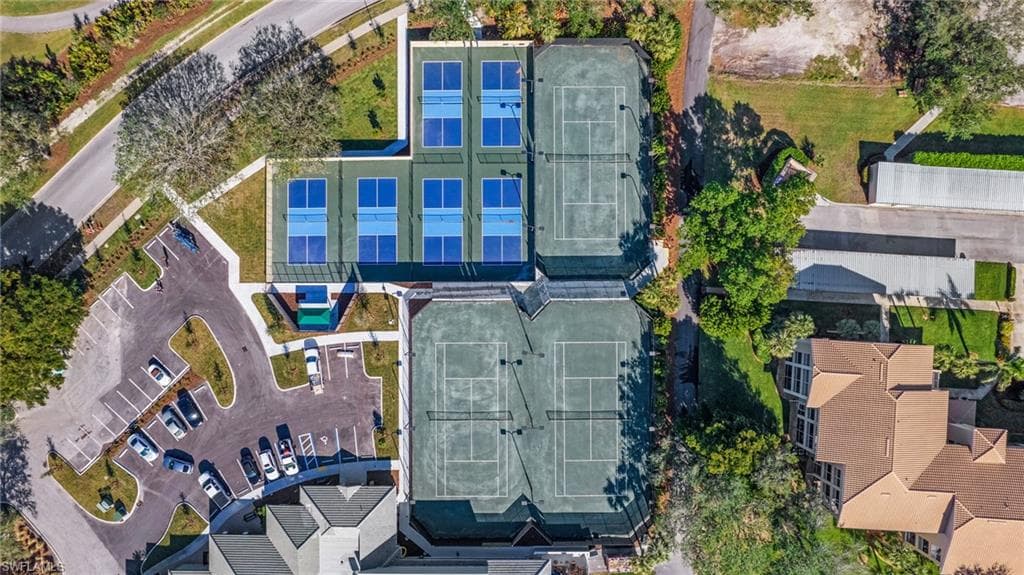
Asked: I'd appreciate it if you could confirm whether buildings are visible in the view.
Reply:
Yes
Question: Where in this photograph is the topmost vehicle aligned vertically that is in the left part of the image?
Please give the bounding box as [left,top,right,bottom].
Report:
[305,348,323,392]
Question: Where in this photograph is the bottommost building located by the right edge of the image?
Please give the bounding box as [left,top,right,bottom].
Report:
[786,337,1024,575]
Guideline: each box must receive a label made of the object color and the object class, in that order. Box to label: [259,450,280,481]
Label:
white car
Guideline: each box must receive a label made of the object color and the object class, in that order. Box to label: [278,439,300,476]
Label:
white truck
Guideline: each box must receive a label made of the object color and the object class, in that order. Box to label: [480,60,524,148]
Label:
blue sports court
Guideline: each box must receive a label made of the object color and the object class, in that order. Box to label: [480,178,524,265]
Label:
blue sports court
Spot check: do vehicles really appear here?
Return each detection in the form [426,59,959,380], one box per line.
[147,362,173,388]
[278,439,300,476]
[200,471,233,509]
[128,432,159,460]
[305,348,323,392]
[259,450,280,481]
[159,409,187,439]
[240,453,263,484]
[177,395,204,428]
[163,455,196,475]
